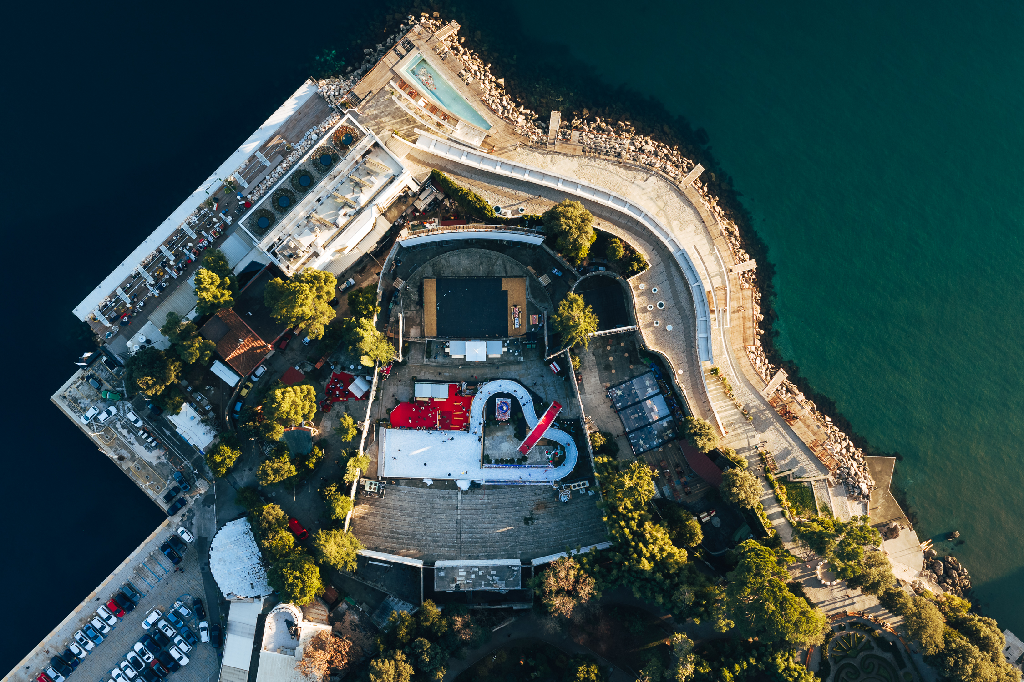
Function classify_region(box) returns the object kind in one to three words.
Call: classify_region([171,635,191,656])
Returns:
car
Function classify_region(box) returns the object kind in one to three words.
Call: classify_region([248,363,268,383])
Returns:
car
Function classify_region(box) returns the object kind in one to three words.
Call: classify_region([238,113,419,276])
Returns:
building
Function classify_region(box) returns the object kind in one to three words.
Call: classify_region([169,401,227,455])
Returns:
building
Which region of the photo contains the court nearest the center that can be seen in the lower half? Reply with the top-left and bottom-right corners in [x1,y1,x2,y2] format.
[378,379,590,485]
